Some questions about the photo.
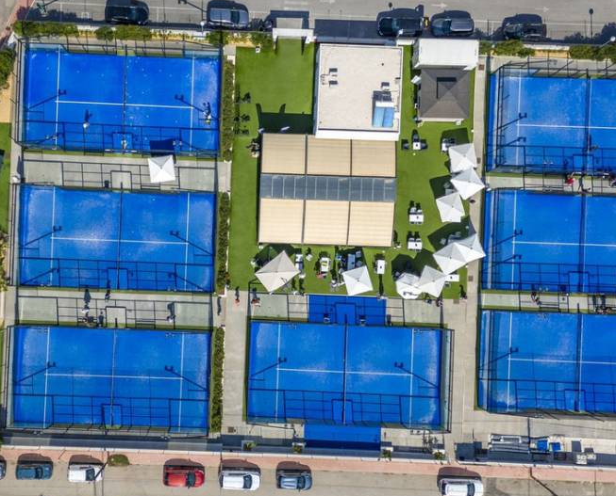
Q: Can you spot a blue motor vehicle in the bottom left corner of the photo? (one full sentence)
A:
Yes, looking in the bottom left corner of the photo, one can make out a blue motor vehicle.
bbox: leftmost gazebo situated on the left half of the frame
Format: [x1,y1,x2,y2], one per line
[149,155,177,184]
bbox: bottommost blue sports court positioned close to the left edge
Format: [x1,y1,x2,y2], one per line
[1,320,218,442]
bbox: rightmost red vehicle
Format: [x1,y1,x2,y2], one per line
[163,467,206,490]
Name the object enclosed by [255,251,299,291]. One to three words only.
umbrella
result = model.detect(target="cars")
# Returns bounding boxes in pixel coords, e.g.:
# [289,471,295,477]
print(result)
[376,12,424,37]
[163,467,206,490]
[438,479,484,496]
[430,14,476,38]
[277,471,313,493]
[501,18,549,43]
[15,461,54,484]
[104,2,150,26]
[67,463,104,484]
[206,5,250,29]
[220,468,262,492]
